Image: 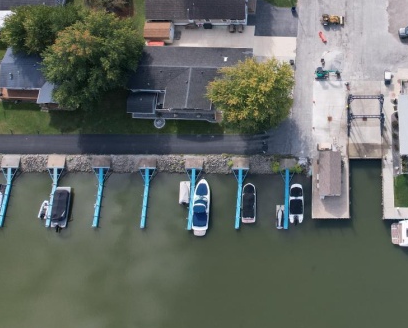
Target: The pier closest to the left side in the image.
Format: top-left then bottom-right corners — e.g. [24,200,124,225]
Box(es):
[0,156,22,227]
